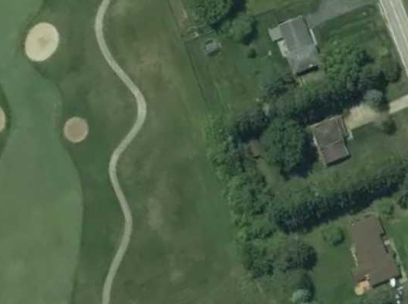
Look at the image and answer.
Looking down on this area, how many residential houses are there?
3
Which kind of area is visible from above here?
golf course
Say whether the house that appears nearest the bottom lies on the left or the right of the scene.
right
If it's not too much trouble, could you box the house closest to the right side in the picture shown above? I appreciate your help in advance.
[348,215,406,287]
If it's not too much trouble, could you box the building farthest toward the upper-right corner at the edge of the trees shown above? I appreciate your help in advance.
[270,17,319,74]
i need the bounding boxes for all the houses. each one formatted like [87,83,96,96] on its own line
[270,17,319,74]
[310,116,351,164]
[348,215,406,287]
